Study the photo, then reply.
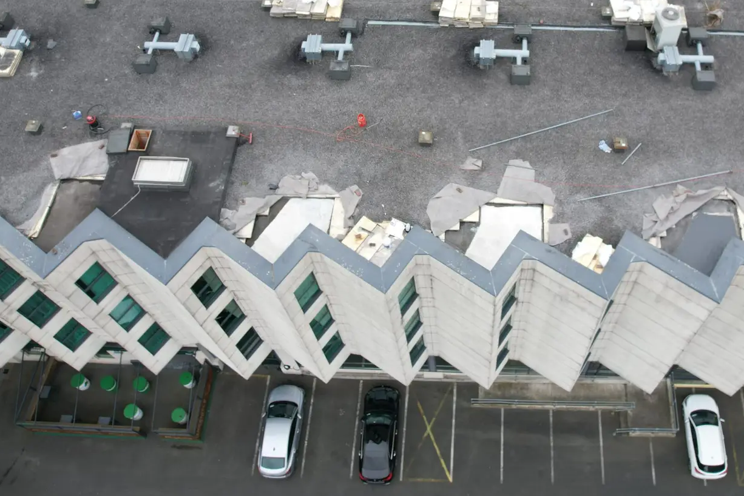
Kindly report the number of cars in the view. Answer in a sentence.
I count 3 cars.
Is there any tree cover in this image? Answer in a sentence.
No, no tree cover is visible.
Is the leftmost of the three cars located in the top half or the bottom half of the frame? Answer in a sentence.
You can find the leftmost of the three cars in the bottom half.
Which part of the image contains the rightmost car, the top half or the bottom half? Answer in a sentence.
Seen from above, the rightmost car lies in the bottom half of the view.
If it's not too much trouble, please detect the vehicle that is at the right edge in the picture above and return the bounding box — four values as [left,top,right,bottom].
[679,394,727,487]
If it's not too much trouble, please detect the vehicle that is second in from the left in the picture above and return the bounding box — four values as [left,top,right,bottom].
[357,386,402,490]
